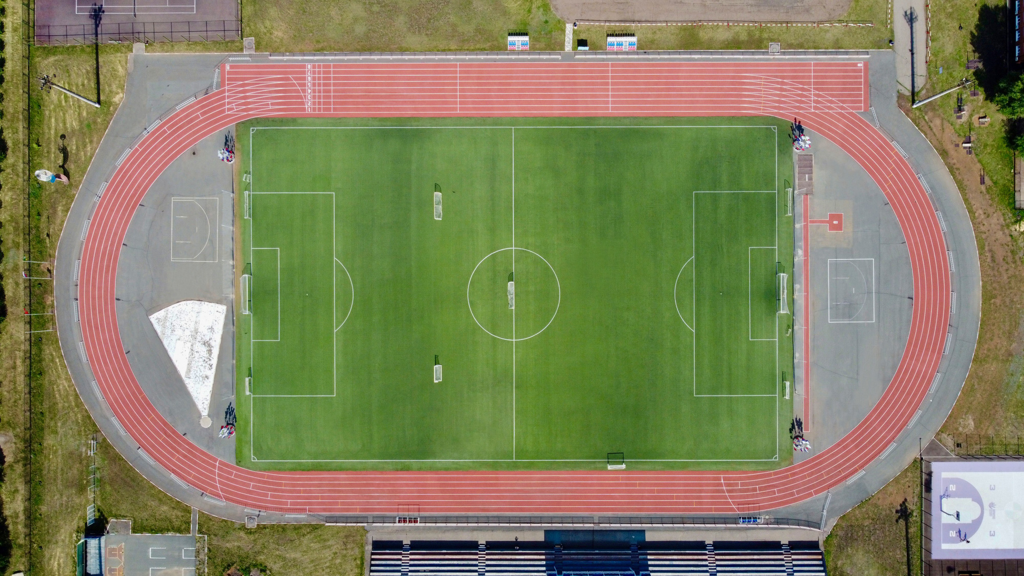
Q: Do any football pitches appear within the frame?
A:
Yes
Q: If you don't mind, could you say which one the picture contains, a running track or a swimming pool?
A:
running track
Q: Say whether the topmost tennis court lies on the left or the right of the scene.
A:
left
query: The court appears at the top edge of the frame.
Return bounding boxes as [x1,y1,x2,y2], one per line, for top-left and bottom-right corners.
[35,0,242,45]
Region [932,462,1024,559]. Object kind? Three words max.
basketball court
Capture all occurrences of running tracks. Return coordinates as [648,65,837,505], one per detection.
[78,61,951,513]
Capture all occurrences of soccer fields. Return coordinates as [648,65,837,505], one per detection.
[235,116,794,471]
